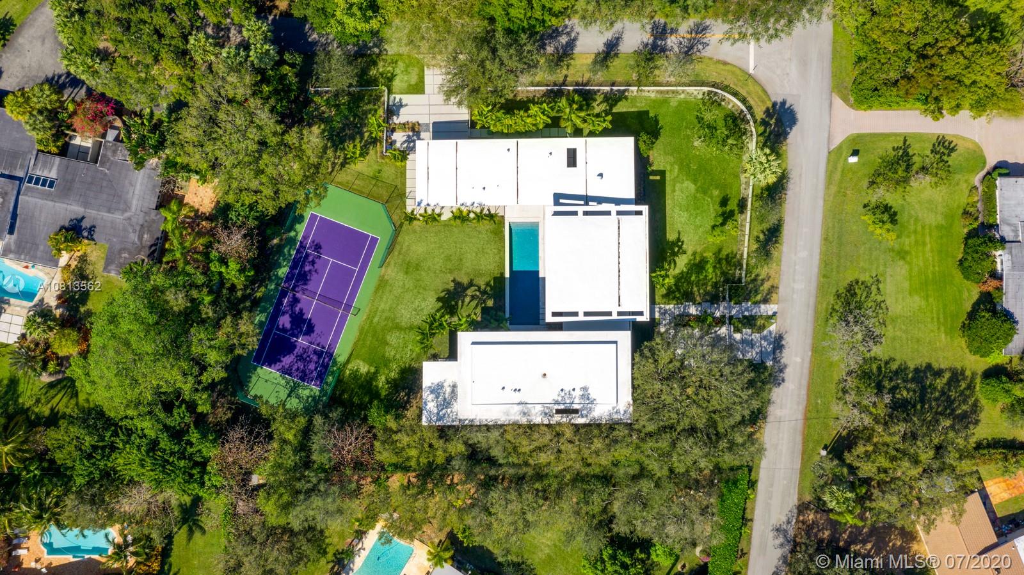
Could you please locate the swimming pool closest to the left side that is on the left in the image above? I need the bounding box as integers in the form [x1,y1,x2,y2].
[0,256,50,306]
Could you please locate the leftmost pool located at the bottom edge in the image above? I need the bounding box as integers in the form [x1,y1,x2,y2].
[39,519,117,561]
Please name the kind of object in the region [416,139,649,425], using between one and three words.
house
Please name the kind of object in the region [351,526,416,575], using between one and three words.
swimming pool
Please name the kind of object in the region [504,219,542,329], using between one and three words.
swimming pool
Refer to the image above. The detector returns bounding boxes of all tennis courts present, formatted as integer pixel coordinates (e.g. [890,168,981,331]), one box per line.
[237,184,394,415]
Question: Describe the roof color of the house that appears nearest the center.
white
